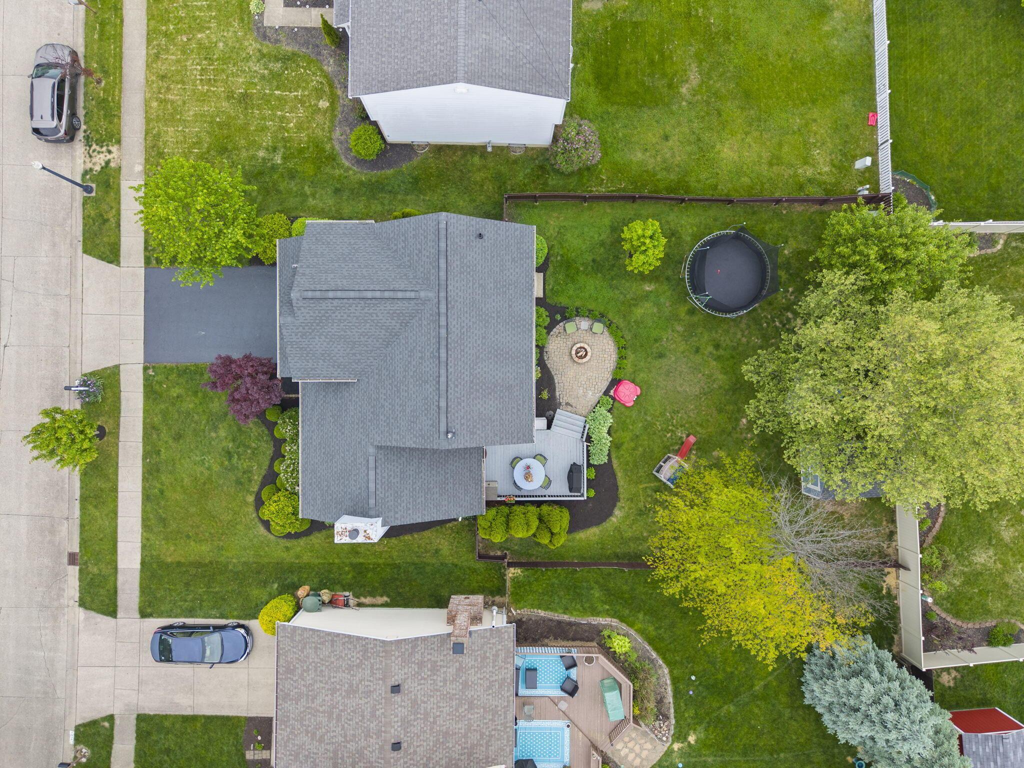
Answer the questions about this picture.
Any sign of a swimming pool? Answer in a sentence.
No, there isn't any swimming pool down there.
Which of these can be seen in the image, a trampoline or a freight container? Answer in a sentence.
Visible in the photo is a trampoline.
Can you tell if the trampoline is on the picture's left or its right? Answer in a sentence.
It is on the right.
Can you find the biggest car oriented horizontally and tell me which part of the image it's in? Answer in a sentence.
Look in the bottom left portion of the view to spot the biggest car oriented horizontally.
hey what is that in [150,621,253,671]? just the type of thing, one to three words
car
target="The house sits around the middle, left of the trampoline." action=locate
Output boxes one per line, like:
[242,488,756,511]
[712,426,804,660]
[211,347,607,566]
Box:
[275,213,538,526]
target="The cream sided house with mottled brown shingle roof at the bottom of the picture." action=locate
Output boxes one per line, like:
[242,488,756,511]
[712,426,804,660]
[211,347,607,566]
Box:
[274,605,517,768]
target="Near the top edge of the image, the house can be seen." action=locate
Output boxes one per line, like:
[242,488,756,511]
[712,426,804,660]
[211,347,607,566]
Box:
[333,0,576,144]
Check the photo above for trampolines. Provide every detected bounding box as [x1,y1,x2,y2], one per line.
[674,223,784,325]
